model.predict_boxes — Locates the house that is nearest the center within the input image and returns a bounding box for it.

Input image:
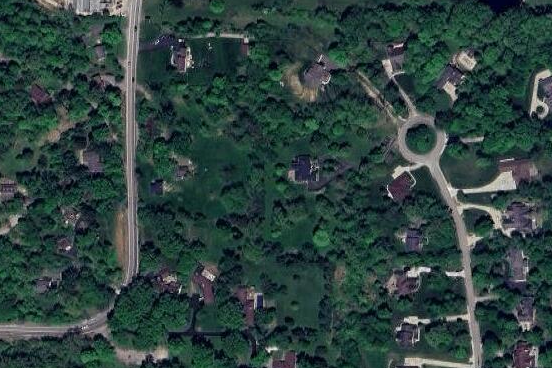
[293,156,318,182]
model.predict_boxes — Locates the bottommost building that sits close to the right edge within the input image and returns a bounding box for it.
[511,341,535,368]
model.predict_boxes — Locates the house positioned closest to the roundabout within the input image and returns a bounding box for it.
[386,172,413,201]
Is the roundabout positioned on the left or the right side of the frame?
right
